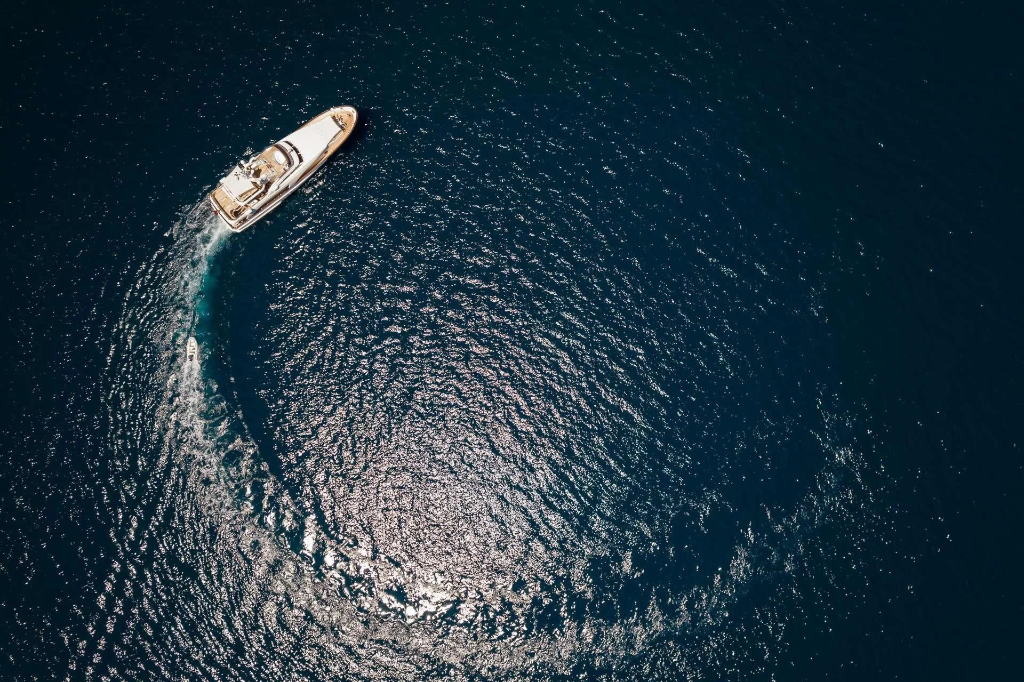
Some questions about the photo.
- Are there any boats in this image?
Yes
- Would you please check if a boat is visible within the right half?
No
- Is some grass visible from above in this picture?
No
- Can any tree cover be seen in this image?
No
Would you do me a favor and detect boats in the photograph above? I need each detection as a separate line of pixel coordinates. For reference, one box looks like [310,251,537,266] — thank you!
[209,105,358,234]
[187,336,197,363]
